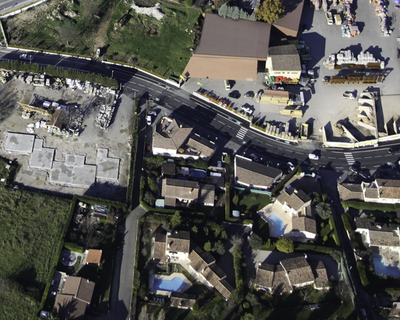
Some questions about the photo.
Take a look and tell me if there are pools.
Yes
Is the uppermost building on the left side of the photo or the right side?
right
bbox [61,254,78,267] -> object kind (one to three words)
swimming pool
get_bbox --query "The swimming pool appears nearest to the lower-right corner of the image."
[372,256,400,279]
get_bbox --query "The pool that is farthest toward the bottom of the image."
[153,275,189,292]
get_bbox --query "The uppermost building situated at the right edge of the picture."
[334,179,400,205]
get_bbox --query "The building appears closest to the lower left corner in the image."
[53,273,97,320]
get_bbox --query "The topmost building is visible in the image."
[272,0,319,45]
